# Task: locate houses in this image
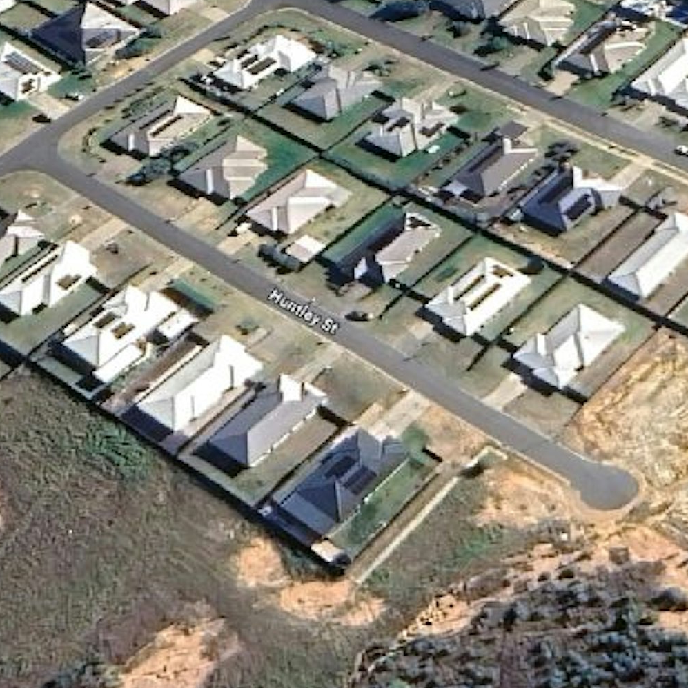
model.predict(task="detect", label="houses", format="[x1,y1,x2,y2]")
[136,338,265,436]
[280,426,410,533]
[333,212,442,290]
[209,376,327,474]
[441,122,538,206]
[247,170,357,237]
[497,0,580,52]
[426,256,531,341]
[181,136,276,204]
[111,0,201,22]
[556,20,652,82]
[519,162,623,233]
[0,45,63,110]
[0,243,100,321]
[515,301,625,395]
[607,207,688,304]
[109,96,215,163]
[364,96,463,163]
[59,285,179,390]
[211,35,319,96]
[631,39,688,114]
[0,211,43,275]
[291,63,380,126]
[439,0,522,28]
[28,2,142,70]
